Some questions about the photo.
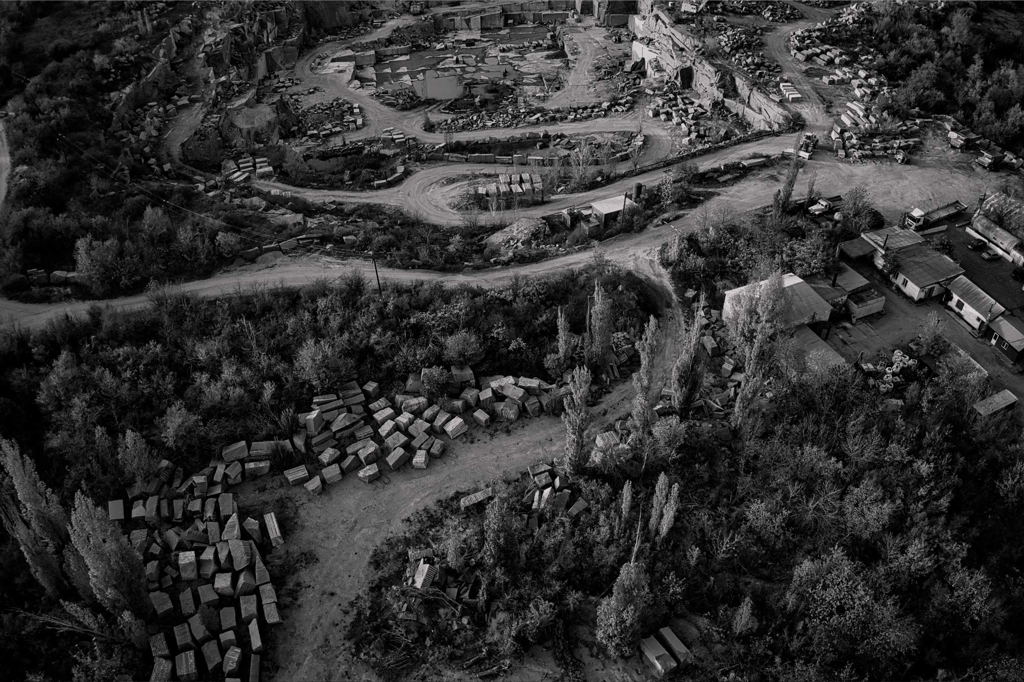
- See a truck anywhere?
Yes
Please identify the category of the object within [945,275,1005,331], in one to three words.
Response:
house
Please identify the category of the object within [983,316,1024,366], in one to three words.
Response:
shed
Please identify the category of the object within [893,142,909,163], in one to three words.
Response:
work vehicle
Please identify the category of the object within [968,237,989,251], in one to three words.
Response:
car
